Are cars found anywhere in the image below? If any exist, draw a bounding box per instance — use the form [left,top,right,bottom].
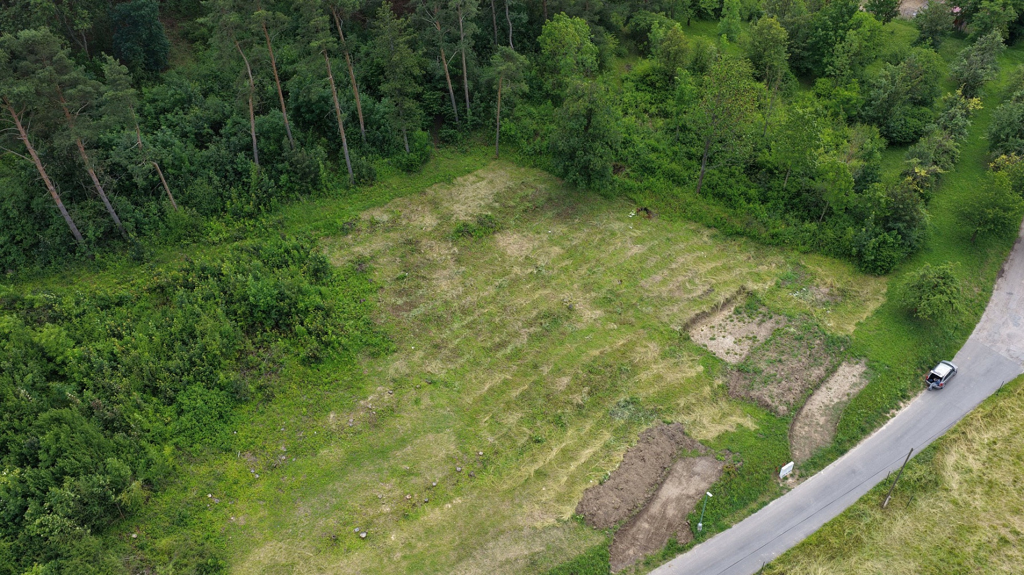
[926,363,958,391]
